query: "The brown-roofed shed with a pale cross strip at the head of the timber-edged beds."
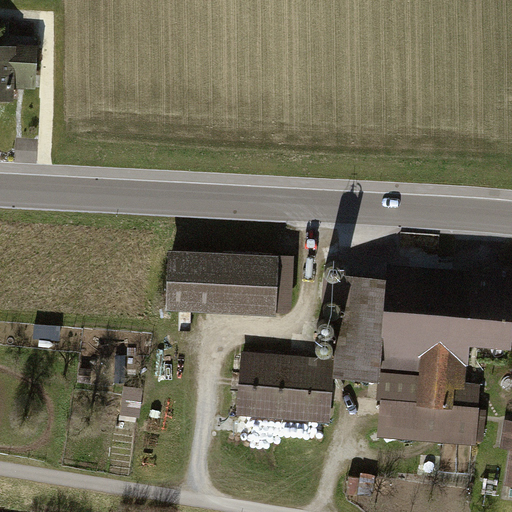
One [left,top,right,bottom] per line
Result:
[119,387,143,422]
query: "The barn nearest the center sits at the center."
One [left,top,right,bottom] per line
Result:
[165,250,294,316]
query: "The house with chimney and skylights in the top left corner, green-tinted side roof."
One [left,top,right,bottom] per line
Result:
[0,44,38,103]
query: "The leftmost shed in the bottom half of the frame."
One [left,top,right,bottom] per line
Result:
[33,325,61,341]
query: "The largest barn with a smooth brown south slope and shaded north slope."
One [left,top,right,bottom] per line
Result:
[382,266,512,372]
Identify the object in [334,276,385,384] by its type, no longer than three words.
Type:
shed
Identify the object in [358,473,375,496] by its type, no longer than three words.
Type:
shed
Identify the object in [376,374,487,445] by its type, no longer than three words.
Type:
building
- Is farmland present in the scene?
Yes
